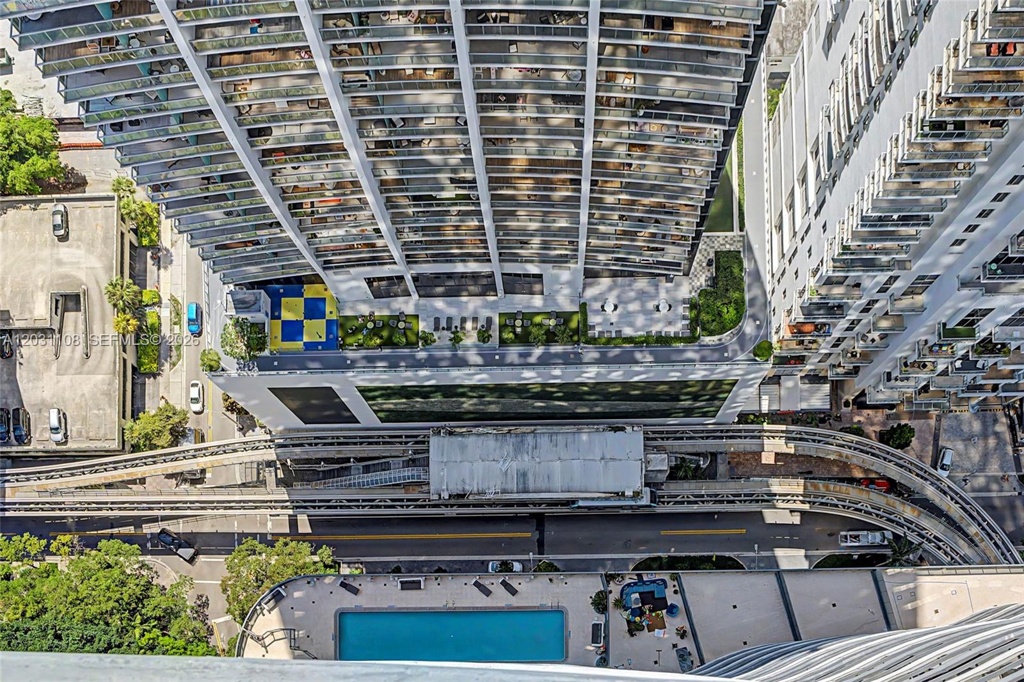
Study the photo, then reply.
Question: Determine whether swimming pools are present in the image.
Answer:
Yes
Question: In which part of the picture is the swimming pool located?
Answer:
bottom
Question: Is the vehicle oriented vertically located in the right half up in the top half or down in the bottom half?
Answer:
bottom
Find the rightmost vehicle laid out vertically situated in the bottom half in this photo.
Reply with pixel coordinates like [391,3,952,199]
[935,445,955,479]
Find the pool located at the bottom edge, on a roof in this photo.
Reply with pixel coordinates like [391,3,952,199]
[332,600,570,662]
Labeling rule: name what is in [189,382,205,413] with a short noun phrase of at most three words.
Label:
car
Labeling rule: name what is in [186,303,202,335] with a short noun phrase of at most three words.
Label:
car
